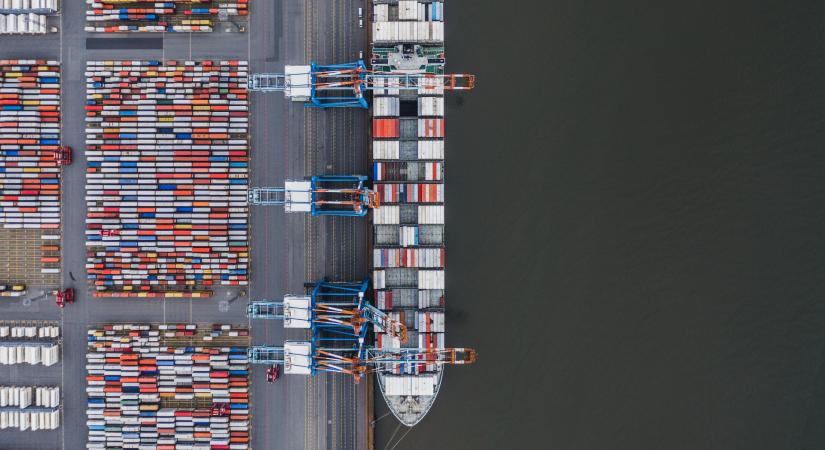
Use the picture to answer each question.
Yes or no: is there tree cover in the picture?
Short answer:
No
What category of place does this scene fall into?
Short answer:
port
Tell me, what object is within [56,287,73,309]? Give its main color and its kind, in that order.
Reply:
red work vehicle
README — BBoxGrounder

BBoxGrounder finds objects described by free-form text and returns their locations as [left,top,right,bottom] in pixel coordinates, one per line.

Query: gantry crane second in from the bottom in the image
[250,275,408,341]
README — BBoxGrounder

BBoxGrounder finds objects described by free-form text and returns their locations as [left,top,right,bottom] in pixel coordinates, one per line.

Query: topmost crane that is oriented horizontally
[250,62,475,111]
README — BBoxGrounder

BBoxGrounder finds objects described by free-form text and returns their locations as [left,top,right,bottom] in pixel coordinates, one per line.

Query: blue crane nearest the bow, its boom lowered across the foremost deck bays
[250,316,475,377]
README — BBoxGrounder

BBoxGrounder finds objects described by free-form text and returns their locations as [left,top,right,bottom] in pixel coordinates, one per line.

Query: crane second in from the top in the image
[250,174,379,217]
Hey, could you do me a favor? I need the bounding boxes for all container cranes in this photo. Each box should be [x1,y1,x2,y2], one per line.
[250,316,475,377]
[250,275,408,341]
[250,62,475,111]
[250,174,379,217]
